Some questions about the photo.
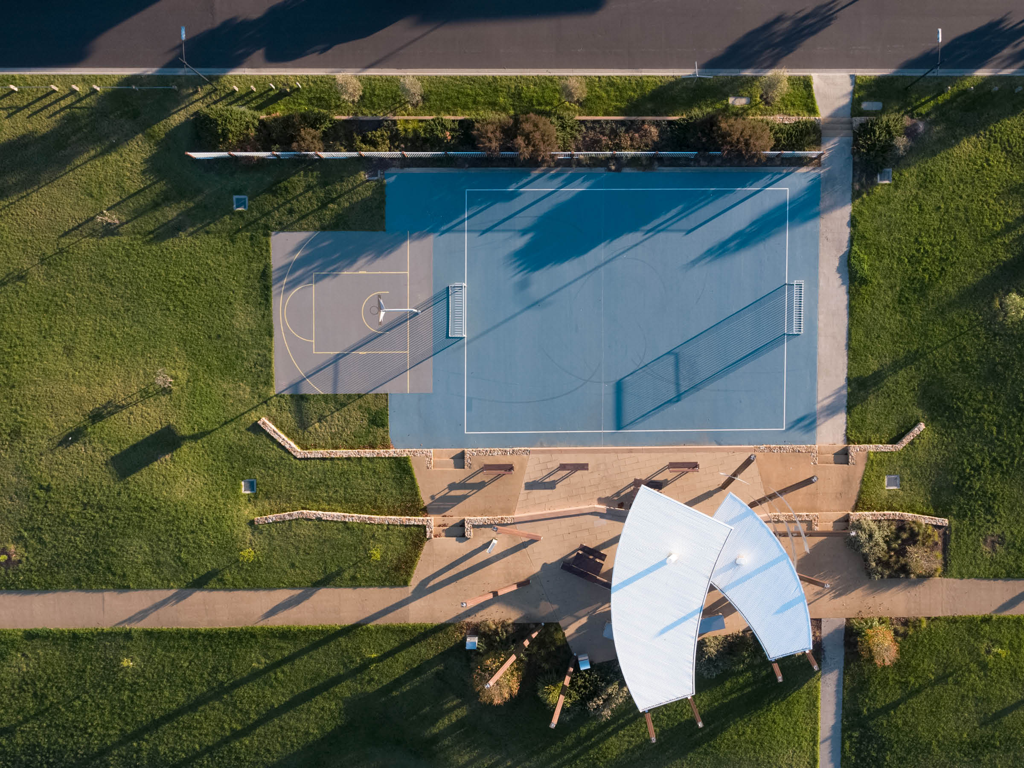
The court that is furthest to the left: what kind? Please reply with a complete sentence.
What you see as the court that is furthest to the left is a basketball court.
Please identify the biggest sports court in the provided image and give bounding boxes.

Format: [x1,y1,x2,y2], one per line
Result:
[385,172,820,448]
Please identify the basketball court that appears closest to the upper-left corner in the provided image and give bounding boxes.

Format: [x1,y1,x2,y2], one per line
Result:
[271,231,433,393]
